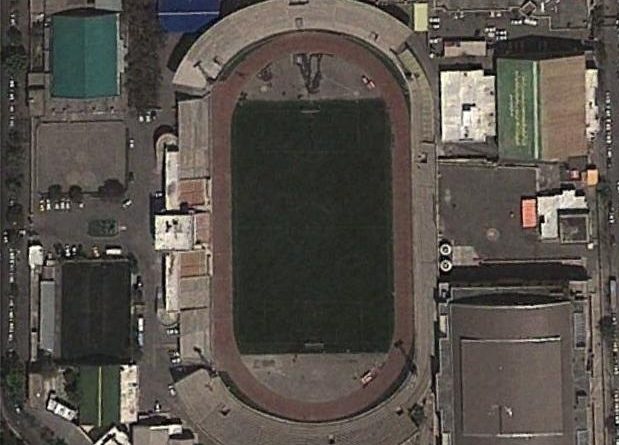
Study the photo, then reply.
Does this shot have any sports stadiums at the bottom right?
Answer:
Yes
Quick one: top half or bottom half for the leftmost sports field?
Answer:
bottom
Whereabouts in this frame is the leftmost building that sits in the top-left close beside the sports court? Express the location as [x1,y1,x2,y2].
[29,88,45,116]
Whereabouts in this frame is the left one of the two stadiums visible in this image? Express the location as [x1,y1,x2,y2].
[173,0,438,445]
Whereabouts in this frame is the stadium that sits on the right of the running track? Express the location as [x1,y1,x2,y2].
[450,279,574,445]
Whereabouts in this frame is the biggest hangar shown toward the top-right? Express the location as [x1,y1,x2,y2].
[497,51,587,163]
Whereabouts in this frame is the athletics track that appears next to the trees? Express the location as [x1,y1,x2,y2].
[212,33,413,423]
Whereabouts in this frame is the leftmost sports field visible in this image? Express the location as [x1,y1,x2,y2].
[54,257,134,364]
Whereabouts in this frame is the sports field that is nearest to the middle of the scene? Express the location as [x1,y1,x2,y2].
[232,100,392,353]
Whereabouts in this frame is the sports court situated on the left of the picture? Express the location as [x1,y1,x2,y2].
[36,120,129,194]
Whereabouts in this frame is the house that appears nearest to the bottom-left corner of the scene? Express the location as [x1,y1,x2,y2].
[47,393,77,421]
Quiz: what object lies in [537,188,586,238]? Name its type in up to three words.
house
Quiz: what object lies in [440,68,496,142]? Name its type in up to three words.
building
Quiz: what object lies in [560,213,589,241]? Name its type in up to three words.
building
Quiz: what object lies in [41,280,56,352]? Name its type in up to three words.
shed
